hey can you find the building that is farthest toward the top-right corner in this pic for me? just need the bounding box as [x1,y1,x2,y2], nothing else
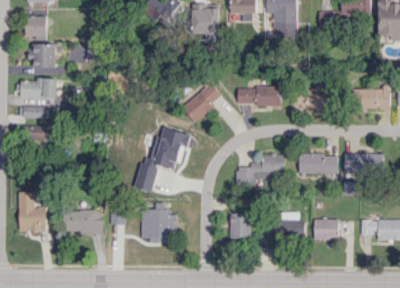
[379,0,400,42]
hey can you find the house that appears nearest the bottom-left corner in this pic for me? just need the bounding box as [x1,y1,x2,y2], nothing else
[18,190,46,233]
